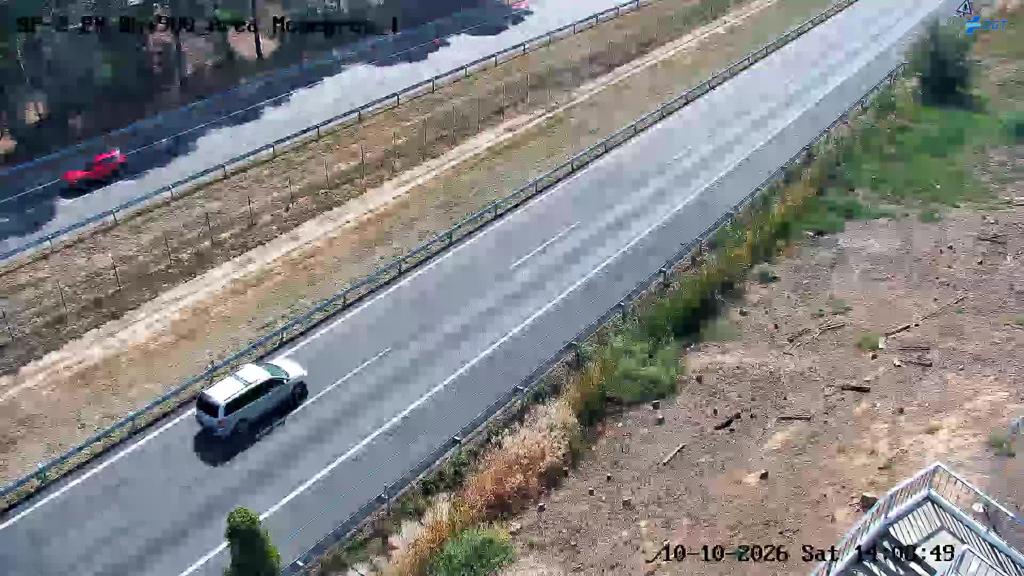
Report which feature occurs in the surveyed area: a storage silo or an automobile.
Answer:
automobile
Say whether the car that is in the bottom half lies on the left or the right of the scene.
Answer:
left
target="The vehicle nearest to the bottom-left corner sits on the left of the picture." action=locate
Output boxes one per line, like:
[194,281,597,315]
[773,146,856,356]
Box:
[194,359,311,437]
